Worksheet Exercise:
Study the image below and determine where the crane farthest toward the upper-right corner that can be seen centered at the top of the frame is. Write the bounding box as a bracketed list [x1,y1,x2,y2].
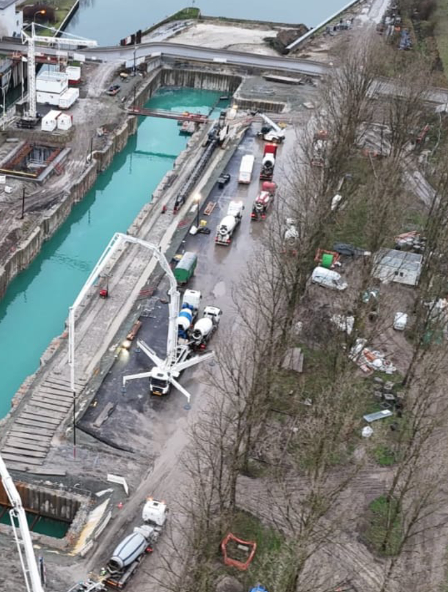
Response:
[256,111,286,142]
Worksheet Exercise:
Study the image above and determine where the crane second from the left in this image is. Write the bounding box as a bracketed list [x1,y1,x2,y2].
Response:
[173,114,234,213]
